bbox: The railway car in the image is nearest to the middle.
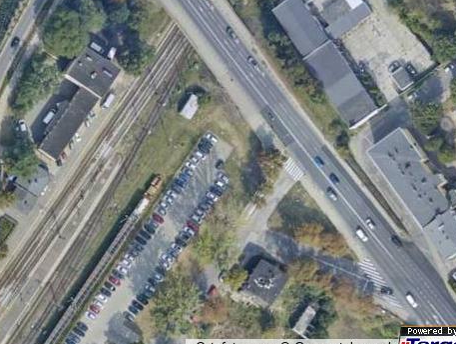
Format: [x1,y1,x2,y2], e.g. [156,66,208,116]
[141,174,162,201]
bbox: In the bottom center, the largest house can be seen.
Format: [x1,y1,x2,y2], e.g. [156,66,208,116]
[240,258,288,306]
